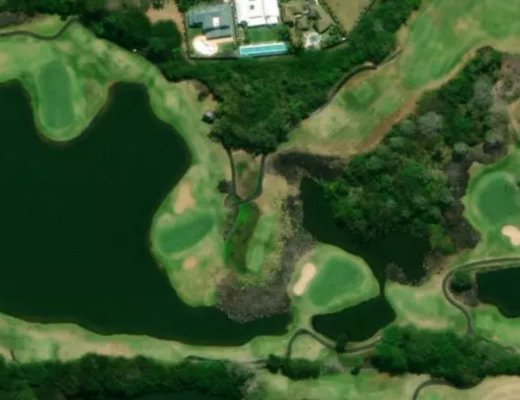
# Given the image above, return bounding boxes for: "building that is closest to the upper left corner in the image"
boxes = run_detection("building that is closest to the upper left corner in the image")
[186,3,235,39]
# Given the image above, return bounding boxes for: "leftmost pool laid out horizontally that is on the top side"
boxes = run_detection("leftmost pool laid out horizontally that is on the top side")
[239,42,286,56]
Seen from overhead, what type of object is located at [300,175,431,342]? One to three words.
pond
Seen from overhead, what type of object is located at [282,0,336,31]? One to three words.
house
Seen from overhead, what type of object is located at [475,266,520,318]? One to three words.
pond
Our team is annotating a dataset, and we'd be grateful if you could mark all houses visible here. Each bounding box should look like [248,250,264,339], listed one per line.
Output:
[236,0,280,28]
[282,0,336,31]
[186,3,235,39]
